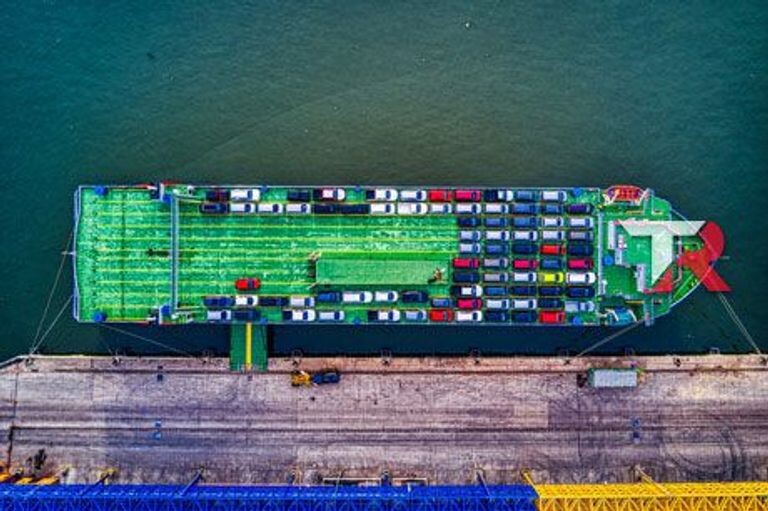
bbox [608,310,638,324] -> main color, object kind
blue boat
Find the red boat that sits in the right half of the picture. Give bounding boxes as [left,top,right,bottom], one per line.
[605,185,645,202]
